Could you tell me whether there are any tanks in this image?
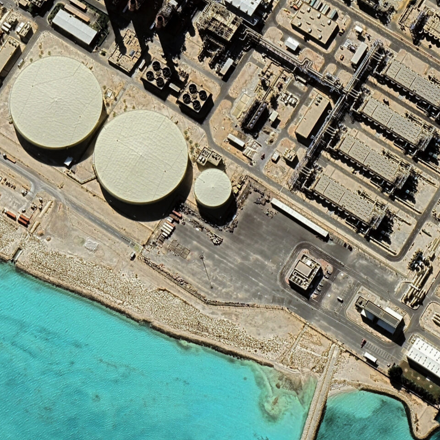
Yes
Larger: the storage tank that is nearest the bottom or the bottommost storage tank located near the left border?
the bottommost storage tank located near the left border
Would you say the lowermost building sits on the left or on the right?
right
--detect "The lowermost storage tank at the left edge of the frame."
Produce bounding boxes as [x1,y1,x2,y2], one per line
[9,55,103,151]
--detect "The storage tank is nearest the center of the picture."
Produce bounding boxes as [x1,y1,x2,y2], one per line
[194,168,233,210]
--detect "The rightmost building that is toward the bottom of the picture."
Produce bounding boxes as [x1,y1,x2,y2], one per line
[408,337,440,379]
